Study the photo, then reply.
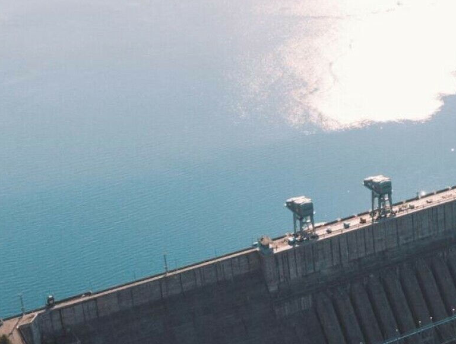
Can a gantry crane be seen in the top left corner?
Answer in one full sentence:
No, in the top left corner there is no gantry crane.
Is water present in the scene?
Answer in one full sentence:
Yes, some water is visible.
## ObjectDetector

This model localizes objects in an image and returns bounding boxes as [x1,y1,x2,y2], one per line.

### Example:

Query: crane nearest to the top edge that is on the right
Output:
[360,176,393,221]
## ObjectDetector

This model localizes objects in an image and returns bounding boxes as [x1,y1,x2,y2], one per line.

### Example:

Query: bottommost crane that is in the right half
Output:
[280,199,316,244]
